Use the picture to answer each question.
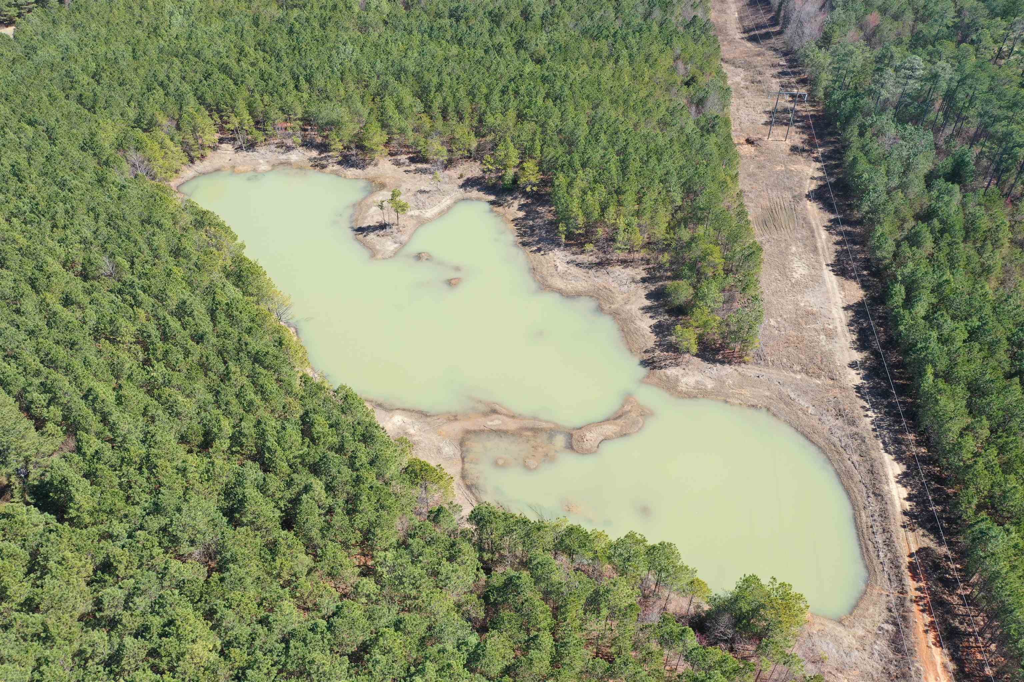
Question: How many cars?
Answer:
0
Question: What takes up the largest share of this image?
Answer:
trees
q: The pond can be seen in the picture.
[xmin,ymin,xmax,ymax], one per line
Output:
[182,170,861,613]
